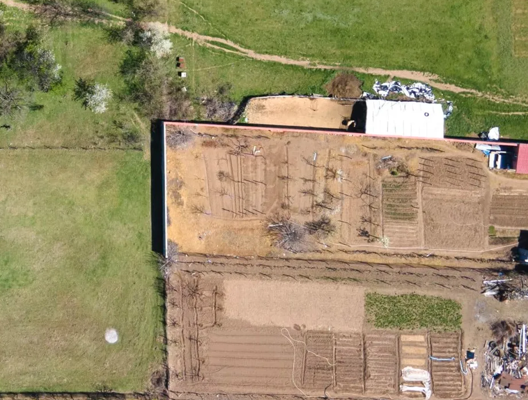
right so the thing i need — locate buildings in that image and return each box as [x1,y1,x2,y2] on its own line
[358,100,444,138]
[507,144,528,174]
